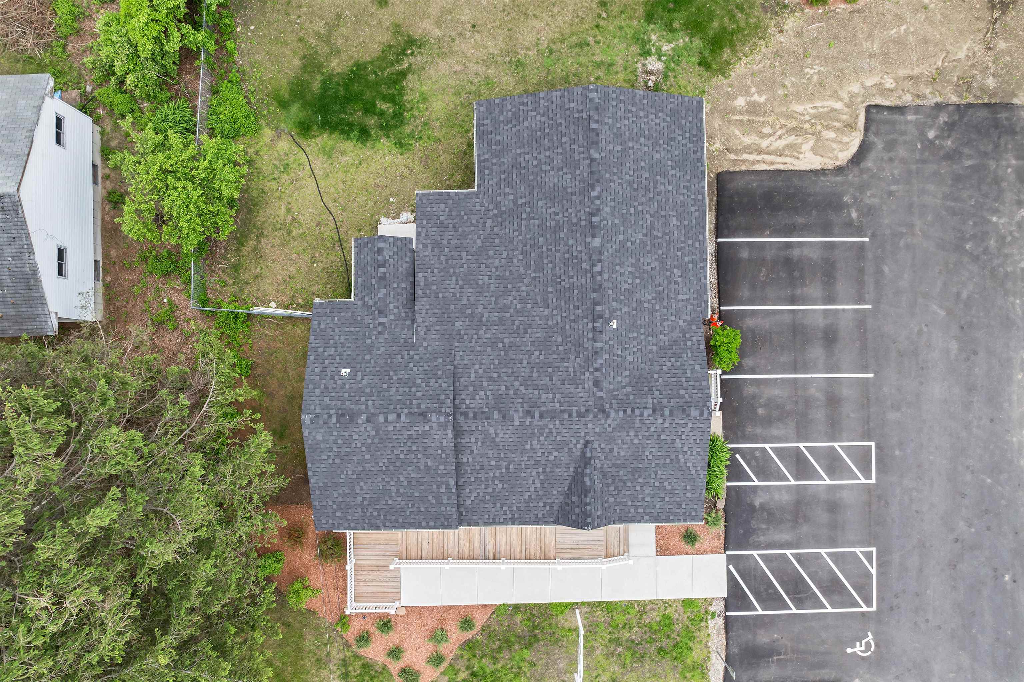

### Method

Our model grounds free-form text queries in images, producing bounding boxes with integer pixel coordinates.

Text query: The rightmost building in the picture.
[301,84,713,534]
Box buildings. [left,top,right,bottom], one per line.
[0,74,105,337]
[301,84,713,534]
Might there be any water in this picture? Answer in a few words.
No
